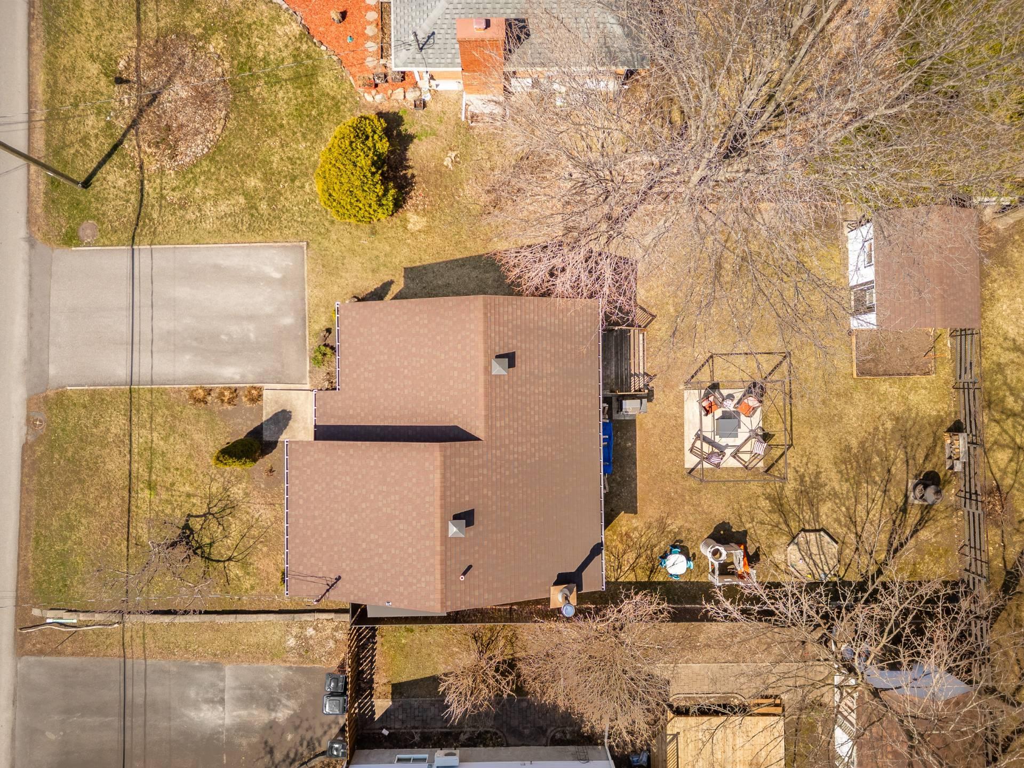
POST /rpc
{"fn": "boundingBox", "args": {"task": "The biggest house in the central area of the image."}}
[283,294,606,626]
